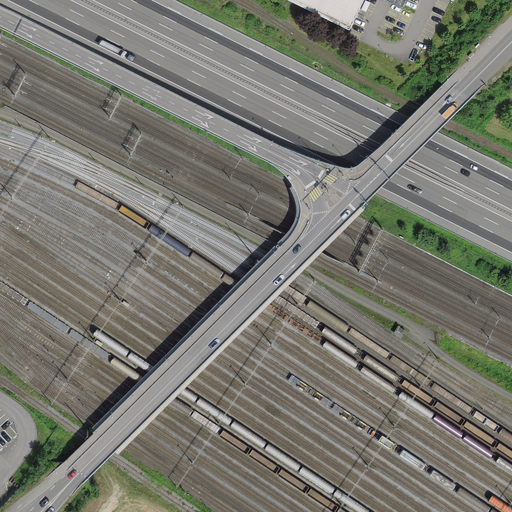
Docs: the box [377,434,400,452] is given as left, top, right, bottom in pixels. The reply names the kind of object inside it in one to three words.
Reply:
rail car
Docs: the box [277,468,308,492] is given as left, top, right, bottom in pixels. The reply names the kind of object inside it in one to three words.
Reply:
rail car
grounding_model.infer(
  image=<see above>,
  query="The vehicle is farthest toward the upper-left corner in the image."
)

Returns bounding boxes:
[100,38,135,61]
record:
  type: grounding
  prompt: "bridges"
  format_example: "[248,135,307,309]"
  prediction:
[76,74,472,471]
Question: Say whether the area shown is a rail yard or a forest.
rail yard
